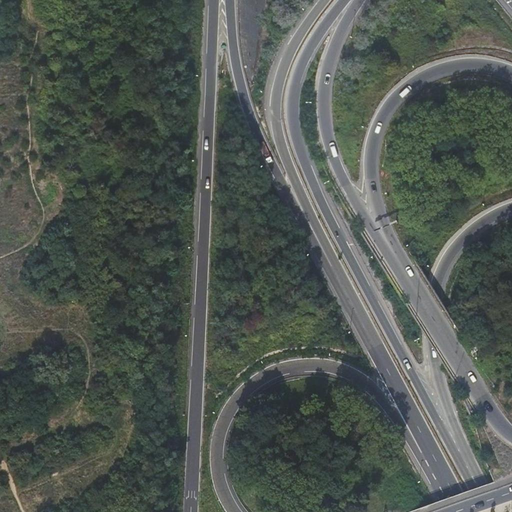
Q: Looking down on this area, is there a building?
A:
No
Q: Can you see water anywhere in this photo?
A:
No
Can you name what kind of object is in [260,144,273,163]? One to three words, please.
vehicle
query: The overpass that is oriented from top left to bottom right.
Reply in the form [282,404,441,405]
[402,274,476,372]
